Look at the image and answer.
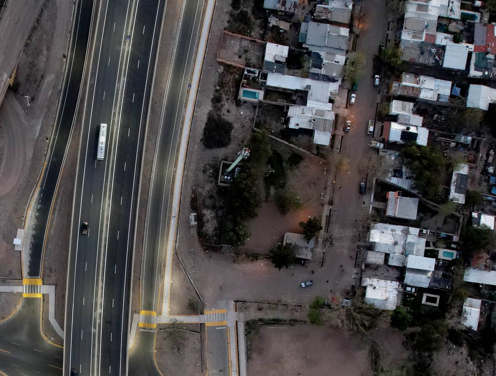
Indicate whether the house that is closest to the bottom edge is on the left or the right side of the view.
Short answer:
right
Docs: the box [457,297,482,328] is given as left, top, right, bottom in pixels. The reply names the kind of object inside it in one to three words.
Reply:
house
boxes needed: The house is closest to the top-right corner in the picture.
[468,24,496,55]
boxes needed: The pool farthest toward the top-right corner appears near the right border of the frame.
[460,9,480,22]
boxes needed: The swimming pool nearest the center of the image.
[238,87,263,100]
